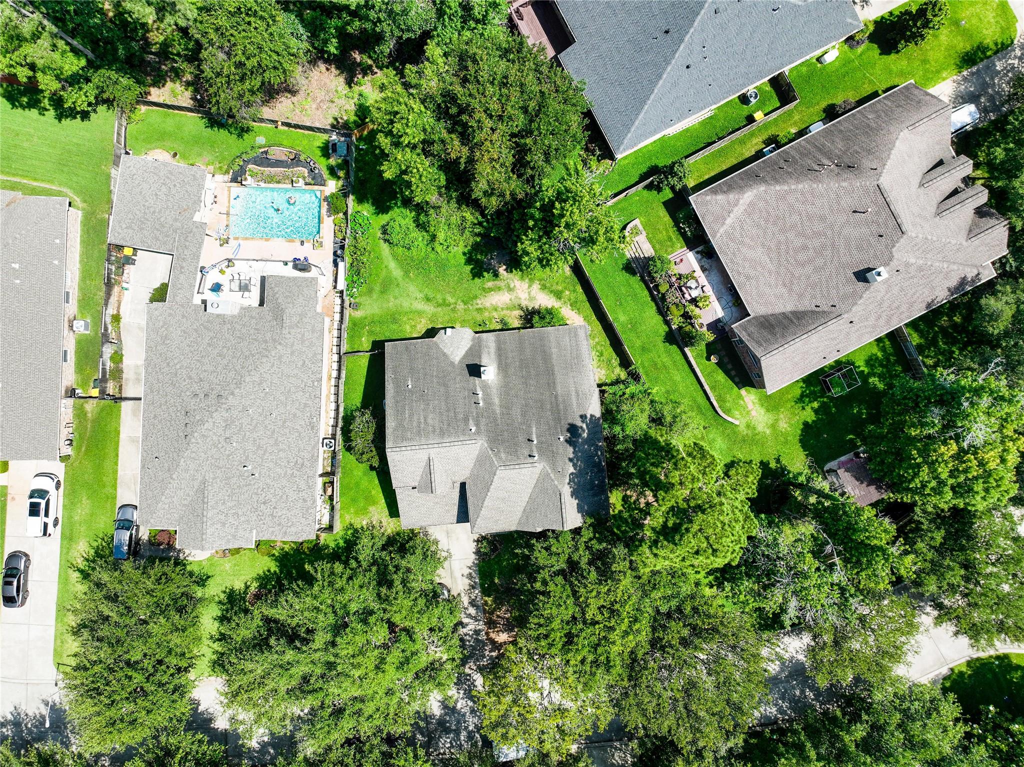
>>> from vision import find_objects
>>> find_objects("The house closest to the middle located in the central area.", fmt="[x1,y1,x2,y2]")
[384,324,612,534]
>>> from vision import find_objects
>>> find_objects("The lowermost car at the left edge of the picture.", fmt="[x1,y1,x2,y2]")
[0,548,32,612]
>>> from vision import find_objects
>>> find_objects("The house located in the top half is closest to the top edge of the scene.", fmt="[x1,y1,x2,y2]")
[548,0,865,162]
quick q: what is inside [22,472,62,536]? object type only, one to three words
car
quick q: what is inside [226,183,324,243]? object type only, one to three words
swimming pool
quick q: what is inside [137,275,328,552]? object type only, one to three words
house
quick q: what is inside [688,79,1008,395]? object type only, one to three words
house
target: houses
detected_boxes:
[548,0,865,162]
[688,79,1008,395]
[137,275,328,552]
[384,324,612,534]
[0,191,87,463]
